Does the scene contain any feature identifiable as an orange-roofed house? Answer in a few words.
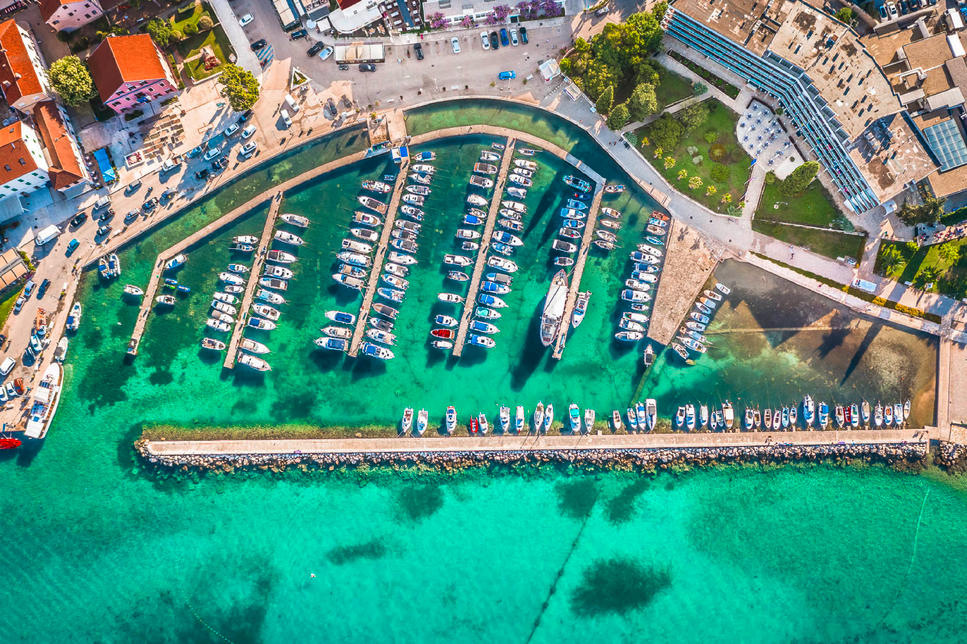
Yes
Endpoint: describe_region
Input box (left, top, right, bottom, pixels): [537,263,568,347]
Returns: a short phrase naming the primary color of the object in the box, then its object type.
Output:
white ship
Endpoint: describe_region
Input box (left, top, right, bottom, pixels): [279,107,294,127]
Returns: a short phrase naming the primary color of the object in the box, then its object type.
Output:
white vehicle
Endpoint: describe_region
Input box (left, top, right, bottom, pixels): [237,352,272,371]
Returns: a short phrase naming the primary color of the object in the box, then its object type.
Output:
white boat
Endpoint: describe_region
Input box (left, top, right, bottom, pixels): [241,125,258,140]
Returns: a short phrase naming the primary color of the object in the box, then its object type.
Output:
white car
